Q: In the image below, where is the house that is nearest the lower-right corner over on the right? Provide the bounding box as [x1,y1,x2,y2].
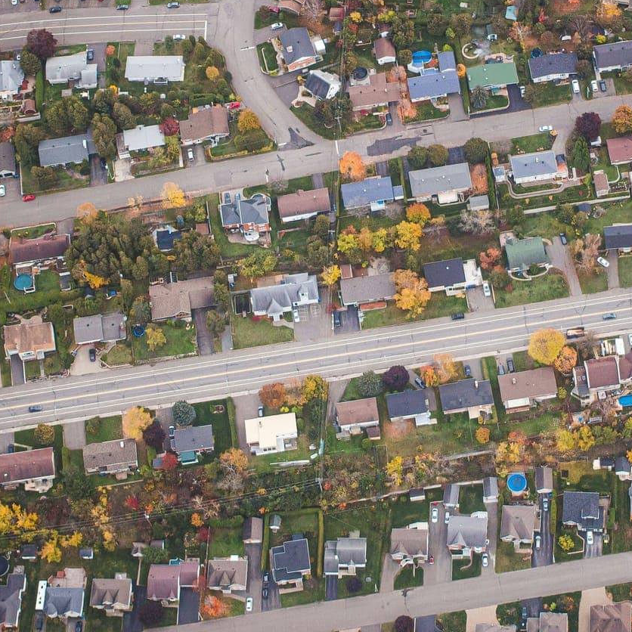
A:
[588,600,631,632]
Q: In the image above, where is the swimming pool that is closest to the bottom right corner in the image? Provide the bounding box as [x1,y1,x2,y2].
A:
[508,474,527,493]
